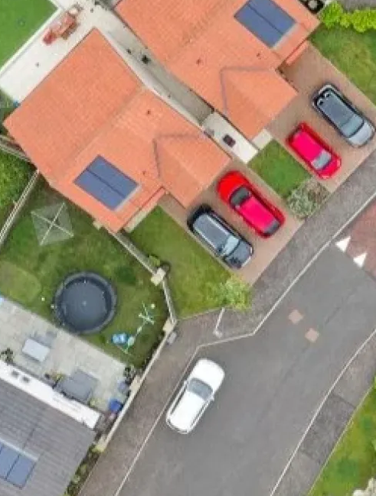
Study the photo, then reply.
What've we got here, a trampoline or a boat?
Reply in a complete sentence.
It is a trampoline that can be seen here.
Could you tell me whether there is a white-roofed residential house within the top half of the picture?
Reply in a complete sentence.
No, I can find no white-roofed residential house within the top half of the picture.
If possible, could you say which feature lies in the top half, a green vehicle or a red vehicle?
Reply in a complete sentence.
It is a red vehicle that can be seen in the top half.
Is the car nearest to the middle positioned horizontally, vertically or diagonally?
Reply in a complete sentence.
From this overhead view, the car nearest to the middle appears to run diagonally.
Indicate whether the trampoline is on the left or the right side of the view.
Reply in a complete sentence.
It is on the left.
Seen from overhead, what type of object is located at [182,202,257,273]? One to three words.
car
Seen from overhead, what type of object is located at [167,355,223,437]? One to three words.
car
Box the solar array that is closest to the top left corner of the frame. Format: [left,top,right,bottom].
[72,155,145,214]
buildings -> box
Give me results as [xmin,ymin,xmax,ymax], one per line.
[0,359,103,496]
[113,0,322,140]
[3,26,234,235]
